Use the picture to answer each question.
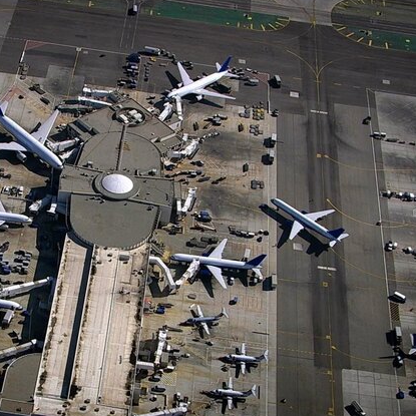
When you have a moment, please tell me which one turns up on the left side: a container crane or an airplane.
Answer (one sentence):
It is an airplane that can be seen on the left side.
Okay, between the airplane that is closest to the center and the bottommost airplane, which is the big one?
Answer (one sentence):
The airplane that is closest to the center takes up more space than the bottommost airplane does.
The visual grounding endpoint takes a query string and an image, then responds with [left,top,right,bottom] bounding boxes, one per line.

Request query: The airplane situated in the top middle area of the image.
[166,57,241,102]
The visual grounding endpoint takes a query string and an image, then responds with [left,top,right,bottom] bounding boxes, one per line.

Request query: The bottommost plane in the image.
[199,373,260,410]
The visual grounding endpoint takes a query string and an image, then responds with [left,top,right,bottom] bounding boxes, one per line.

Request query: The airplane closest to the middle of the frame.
[170,238,266,287]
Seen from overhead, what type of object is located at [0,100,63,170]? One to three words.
airplane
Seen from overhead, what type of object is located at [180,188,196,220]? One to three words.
jet bridge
